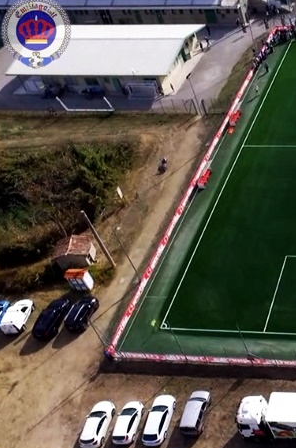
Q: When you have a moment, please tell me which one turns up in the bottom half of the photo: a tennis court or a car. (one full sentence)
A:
It is a car that can be seen in the bottom half of the photo.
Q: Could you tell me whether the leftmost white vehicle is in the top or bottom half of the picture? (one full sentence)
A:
You can find the leftmost white vehicle in the bottom half.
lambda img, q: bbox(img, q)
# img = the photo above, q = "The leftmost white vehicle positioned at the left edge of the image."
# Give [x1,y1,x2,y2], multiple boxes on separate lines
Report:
[0,301,34,335]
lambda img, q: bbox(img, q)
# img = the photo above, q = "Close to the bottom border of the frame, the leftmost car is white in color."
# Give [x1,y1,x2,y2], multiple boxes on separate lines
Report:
[77,402,116,448]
